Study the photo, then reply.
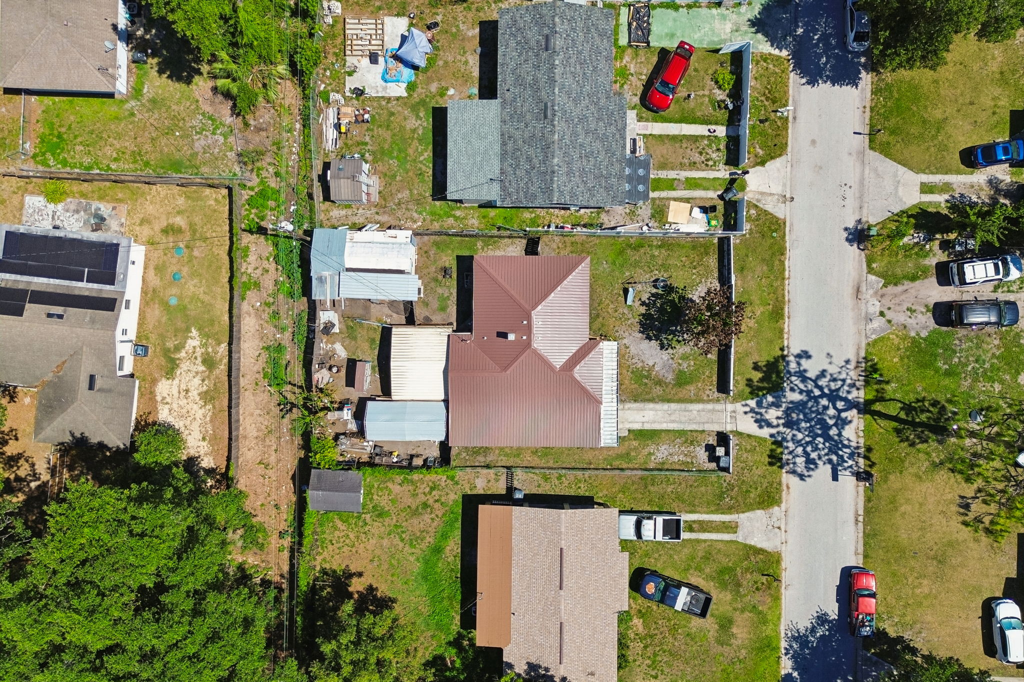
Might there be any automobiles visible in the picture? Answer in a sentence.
Yes, there's an automobile down there.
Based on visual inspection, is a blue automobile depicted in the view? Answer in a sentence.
Yes, a blue automobile appears in the view.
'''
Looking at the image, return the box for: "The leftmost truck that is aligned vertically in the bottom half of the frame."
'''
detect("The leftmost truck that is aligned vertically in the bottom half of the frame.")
[843,564,878,639]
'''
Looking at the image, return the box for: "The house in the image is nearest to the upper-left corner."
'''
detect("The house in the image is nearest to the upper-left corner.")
[1,0,126,95]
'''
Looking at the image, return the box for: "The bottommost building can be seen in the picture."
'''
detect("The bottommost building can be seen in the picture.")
[476,505,629,682]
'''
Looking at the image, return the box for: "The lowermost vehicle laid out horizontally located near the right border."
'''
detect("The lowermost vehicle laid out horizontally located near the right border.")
[943,299,1016,330]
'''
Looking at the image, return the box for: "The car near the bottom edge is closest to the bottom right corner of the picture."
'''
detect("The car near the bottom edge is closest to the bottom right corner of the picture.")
[987,596,1024,663]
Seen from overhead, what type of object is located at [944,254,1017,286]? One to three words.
vehicle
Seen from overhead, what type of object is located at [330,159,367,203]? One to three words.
shed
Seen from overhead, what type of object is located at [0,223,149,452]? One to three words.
house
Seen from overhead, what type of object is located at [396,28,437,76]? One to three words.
gazebo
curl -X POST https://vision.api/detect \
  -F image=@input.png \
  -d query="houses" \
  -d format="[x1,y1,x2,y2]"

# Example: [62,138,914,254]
[449,254,610,447]
[446,0,626,207]
[0,223,149,452]
[1,0,126,95]
[476,505,629,682]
